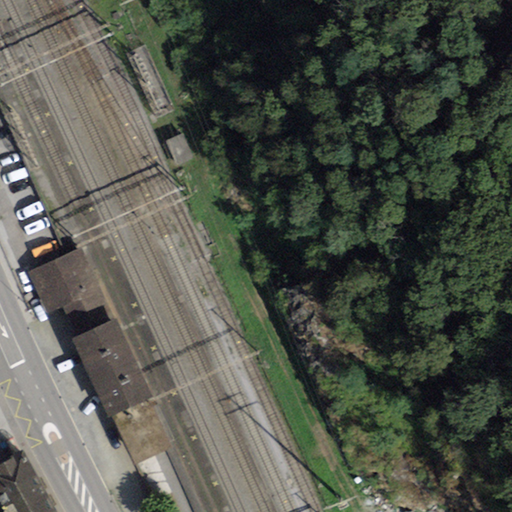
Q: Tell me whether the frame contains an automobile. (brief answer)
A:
Yes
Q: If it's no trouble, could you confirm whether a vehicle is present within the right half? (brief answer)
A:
No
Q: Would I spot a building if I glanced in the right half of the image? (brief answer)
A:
No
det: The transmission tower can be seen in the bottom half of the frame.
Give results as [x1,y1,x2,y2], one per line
[324,494,358,508]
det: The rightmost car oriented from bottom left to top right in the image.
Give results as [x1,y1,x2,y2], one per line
[80,395,100,416]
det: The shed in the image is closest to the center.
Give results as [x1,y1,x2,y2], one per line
[166,134,194,164]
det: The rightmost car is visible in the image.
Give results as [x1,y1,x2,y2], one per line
[108,426,124,450]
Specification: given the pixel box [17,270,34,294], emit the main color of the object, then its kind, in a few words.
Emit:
white car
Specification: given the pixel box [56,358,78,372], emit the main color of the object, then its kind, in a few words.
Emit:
white car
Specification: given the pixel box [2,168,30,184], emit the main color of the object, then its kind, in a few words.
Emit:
white vehicle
